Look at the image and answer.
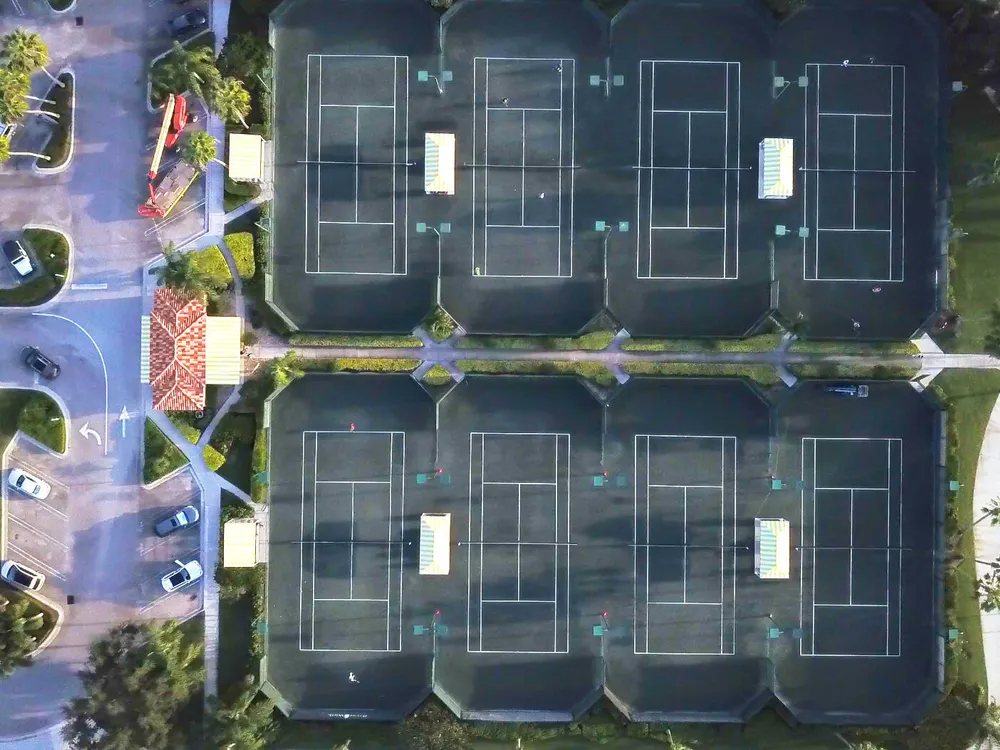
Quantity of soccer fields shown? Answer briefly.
0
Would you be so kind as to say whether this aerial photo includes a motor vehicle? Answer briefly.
Yes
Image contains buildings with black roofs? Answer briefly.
No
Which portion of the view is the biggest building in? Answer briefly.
left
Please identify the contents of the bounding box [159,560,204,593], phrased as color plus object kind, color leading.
white car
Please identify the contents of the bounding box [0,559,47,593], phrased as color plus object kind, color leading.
white car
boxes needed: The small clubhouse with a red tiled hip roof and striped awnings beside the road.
[141,288,249,411]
